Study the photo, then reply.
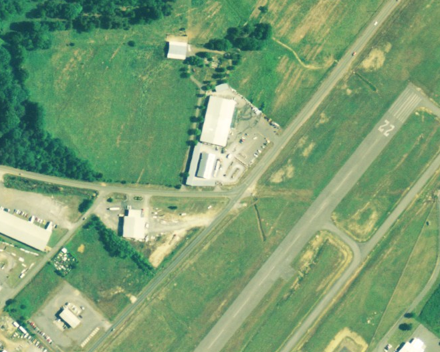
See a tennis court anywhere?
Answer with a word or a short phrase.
No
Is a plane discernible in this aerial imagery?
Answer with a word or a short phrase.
No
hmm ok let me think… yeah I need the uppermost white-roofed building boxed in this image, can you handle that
[167,41,187,60]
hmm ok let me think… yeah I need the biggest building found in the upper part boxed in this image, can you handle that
[200,95,238,147]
